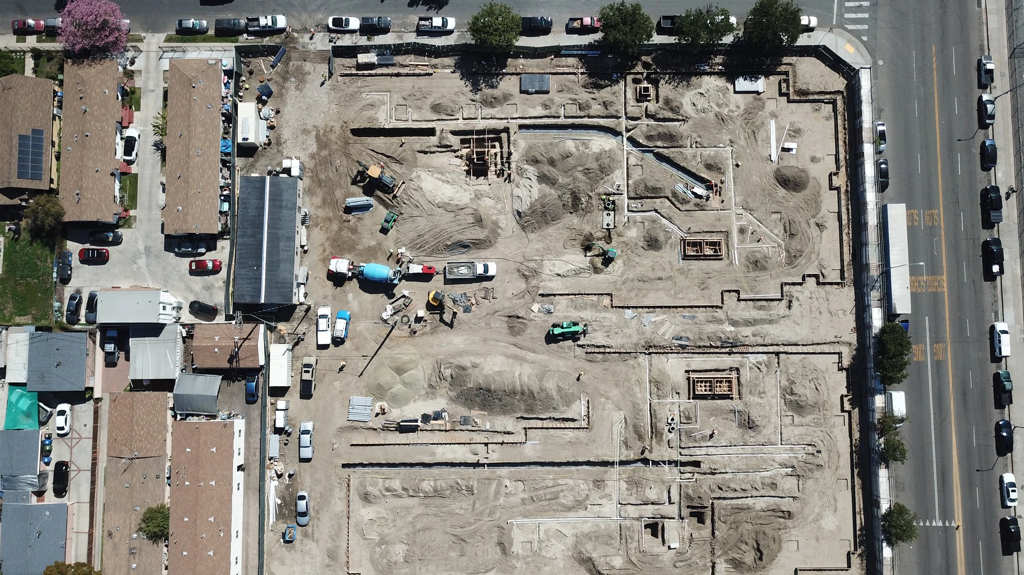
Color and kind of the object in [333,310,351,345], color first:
white car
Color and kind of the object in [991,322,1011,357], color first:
white car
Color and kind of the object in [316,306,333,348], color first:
white vehicle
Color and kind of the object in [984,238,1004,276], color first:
black vehicle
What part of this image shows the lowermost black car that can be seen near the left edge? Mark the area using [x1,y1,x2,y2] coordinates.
[51,461,72,497]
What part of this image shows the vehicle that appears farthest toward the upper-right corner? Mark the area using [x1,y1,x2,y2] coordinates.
[977,55,996,87]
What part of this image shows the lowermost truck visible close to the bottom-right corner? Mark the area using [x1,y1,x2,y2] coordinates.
[999,516,1020,553]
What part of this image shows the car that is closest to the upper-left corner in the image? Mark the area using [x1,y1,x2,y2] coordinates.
[13,18,45,34]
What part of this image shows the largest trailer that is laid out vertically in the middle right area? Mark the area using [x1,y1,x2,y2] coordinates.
[879,203,915,315]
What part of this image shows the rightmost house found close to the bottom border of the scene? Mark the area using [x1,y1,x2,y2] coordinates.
[167,421,244,575]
